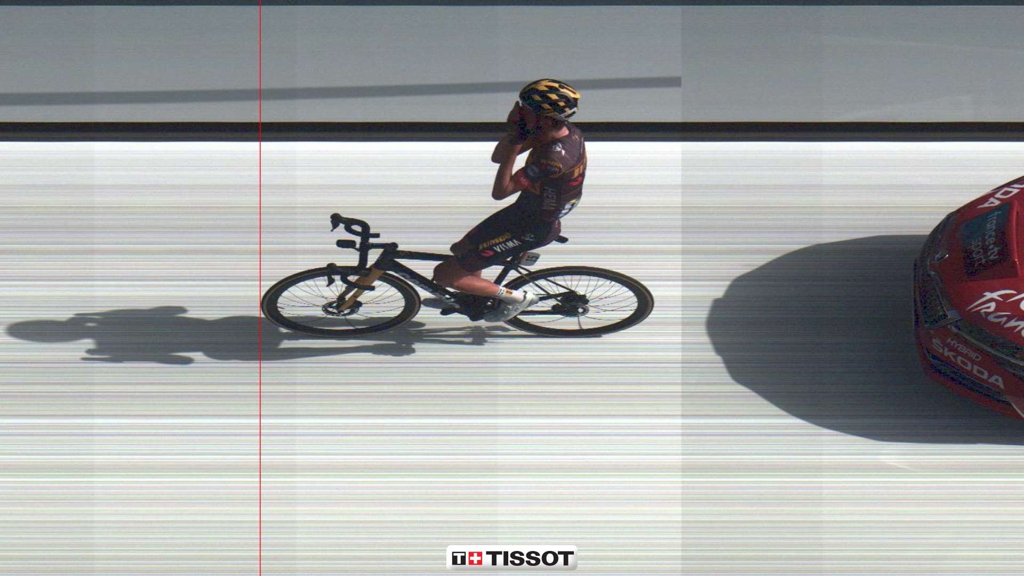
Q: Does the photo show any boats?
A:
No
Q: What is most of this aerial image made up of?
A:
paved ground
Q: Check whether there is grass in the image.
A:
No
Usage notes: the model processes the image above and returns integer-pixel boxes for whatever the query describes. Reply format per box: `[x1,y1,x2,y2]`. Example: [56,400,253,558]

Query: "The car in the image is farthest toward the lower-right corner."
[911,165,1024,420]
